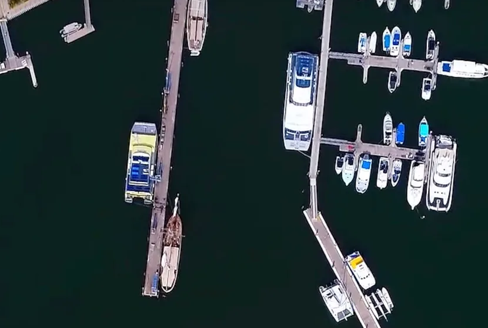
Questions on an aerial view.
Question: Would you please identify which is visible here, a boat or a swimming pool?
boat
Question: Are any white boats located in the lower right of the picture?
Yes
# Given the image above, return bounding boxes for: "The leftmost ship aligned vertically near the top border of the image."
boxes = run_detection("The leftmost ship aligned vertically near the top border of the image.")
[186,0,207,52]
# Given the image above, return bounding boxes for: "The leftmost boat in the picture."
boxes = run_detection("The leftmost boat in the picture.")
[61,24,82,39]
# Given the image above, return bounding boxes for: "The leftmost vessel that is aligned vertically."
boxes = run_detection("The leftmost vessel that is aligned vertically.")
[126,122,158,203]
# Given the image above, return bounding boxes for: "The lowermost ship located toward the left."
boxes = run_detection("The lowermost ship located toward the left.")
[160,197,181,293]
